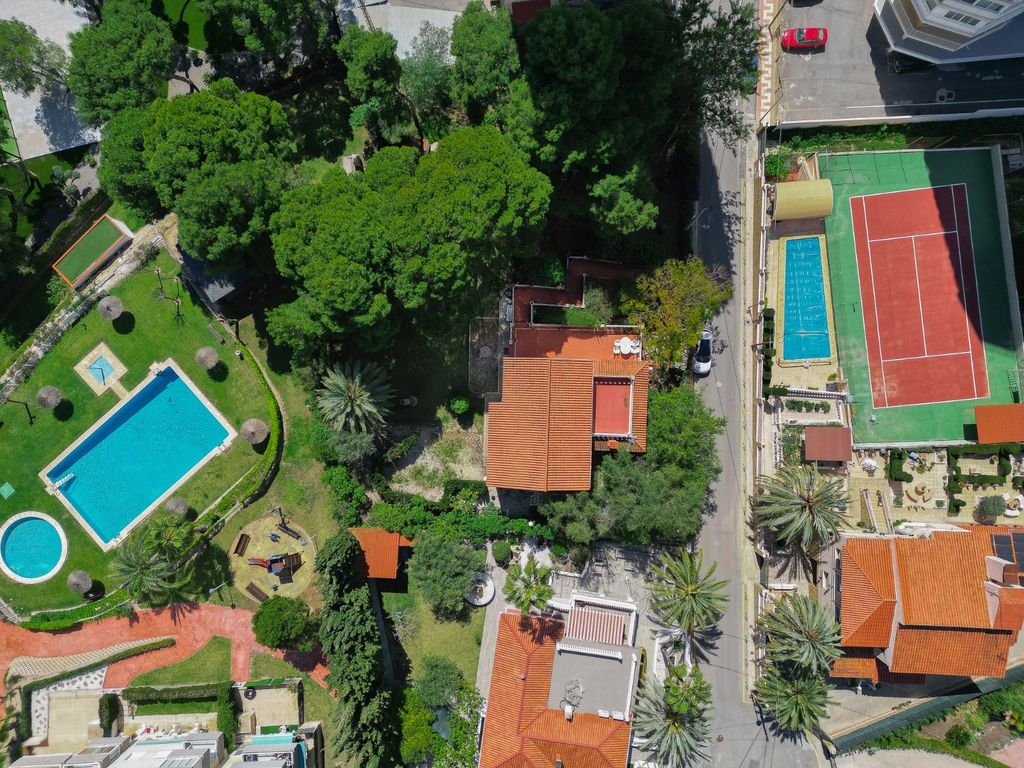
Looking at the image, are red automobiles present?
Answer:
Yes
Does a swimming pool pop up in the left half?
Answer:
Yes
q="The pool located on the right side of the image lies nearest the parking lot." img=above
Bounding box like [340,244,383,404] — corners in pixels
[776,233,837,367]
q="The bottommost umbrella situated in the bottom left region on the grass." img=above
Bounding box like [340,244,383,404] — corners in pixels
[69,568,94,593]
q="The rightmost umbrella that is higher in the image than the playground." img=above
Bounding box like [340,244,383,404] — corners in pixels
[243,418,269,444]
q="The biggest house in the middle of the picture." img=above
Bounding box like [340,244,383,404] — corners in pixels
[486,357,650,492]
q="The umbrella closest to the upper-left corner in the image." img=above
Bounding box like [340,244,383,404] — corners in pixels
[99,296,125,322]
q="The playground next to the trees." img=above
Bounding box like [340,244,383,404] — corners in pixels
[229,517,316,604]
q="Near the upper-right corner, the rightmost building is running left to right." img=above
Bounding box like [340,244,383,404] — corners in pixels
[868,0,1024,66]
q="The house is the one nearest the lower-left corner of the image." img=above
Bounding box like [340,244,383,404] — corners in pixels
[18,727,98,768]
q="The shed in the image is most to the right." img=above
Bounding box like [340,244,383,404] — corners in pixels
[960,404,1024,444]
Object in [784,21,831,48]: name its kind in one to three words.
car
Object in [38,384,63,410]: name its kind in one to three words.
umbrella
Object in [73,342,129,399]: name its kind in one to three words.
swimming pool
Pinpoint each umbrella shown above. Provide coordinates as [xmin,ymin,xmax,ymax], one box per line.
[38,384,63,410]
[165,494,190,518]
[69,568,94,593]
[195,345,221,370]
[243,418,269,444]
[99,296,125,322]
